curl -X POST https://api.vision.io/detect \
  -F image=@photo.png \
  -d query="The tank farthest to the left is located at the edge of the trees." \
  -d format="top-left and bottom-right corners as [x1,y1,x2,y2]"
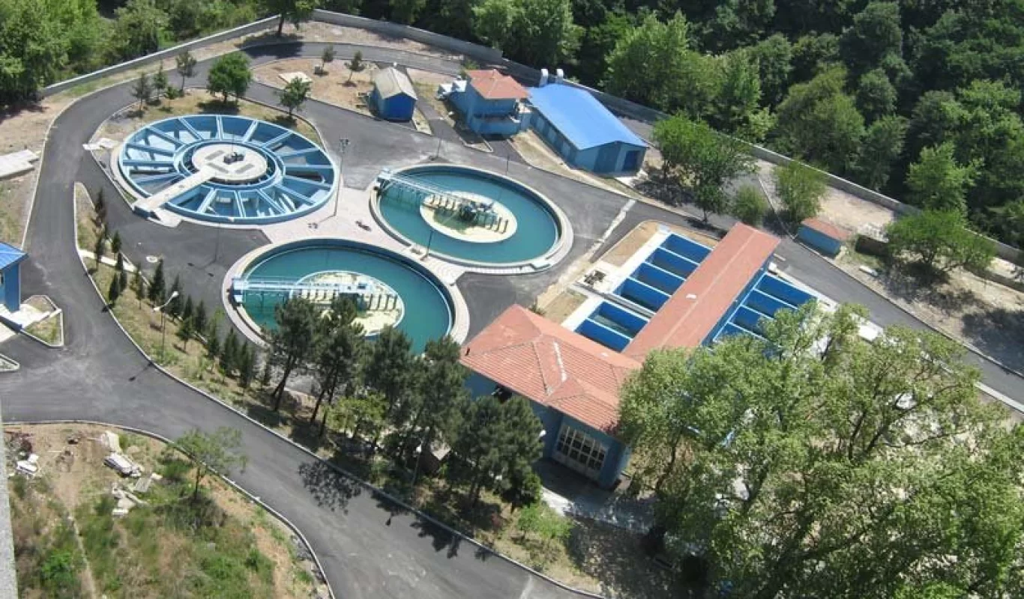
[111,115,336,231]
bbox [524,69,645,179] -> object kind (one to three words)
building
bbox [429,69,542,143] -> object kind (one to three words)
building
